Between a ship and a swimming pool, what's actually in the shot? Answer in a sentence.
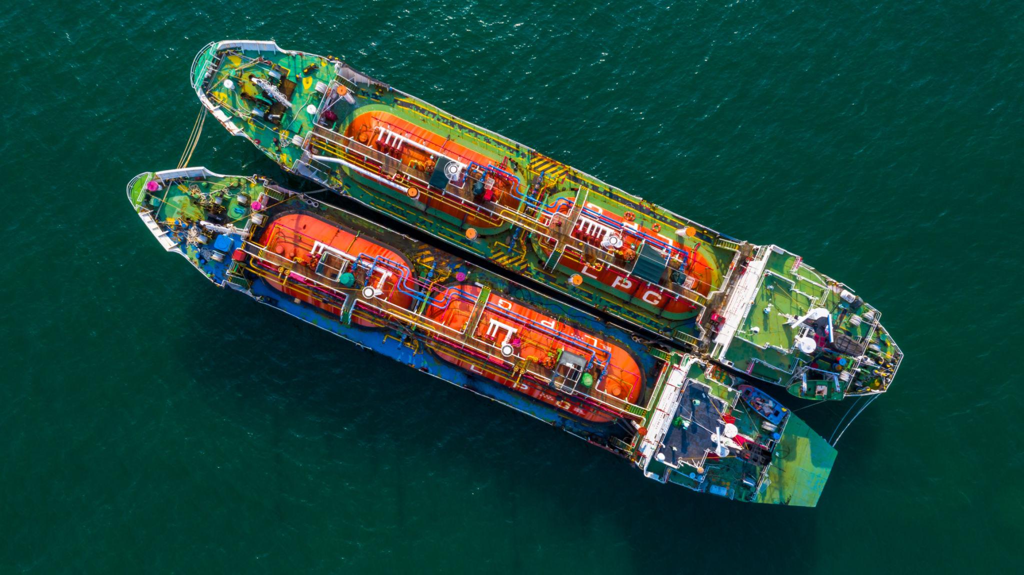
The one in the frame is a ship.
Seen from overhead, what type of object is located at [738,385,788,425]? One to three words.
boat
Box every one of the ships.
[126,165,837,507]
[190,38,903,398]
